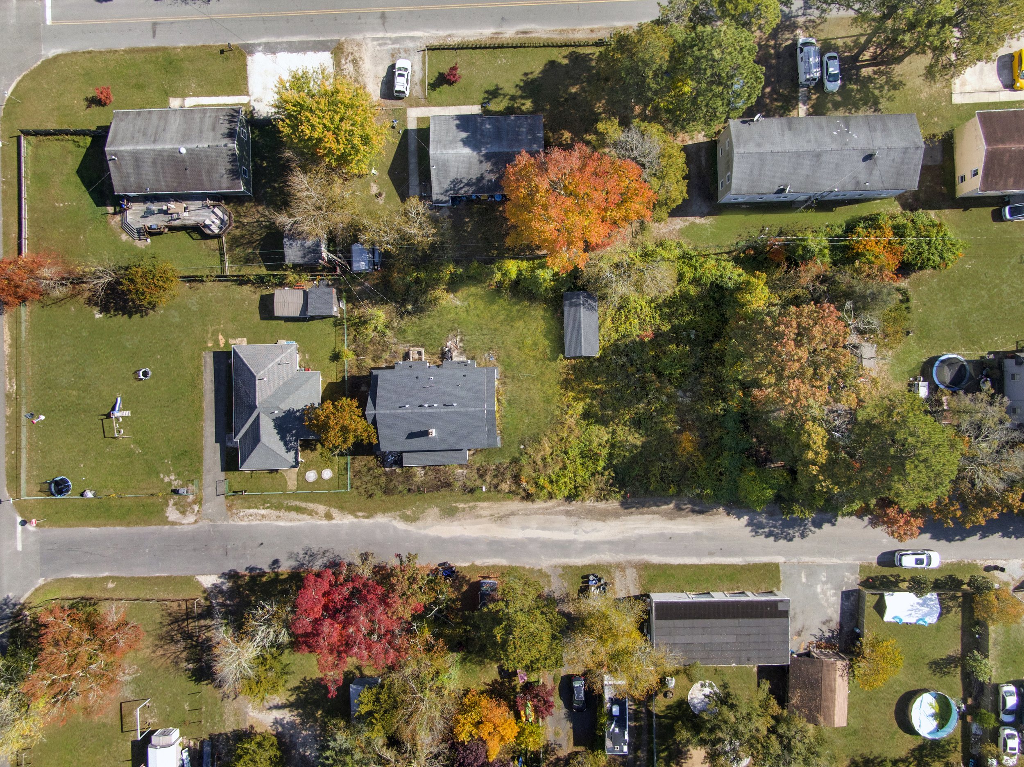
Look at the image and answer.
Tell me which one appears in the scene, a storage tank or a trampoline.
trampoline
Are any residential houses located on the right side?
Yes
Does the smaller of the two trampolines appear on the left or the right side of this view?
left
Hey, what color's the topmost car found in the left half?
white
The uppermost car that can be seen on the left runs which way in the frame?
vertically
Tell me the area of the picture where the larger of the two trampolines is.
right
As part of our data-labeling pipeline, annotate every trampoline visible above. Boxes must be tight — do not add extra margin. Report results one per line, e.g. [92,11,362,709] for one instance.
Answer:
[930,353,980,391]
[42,477,73,499]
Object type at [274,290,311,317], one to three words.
shed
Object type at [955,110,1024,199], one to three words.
house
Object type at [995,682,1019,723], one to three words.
car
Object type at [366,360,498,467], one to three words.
house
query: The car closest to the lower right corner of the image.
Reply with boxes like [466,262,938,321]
[997,725,1021,766]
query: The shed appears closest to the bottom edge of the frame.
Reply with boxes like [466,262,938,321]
[149,726,190,767]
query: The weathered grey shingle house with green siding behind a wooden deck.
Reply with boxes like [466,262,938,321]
[105,107,250,196]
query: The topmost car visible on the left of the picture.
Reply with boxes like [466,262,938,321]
[392,59,413,100]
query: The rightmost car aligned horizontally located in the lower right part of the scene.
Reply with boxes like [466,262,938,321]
[893,549,939,570]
